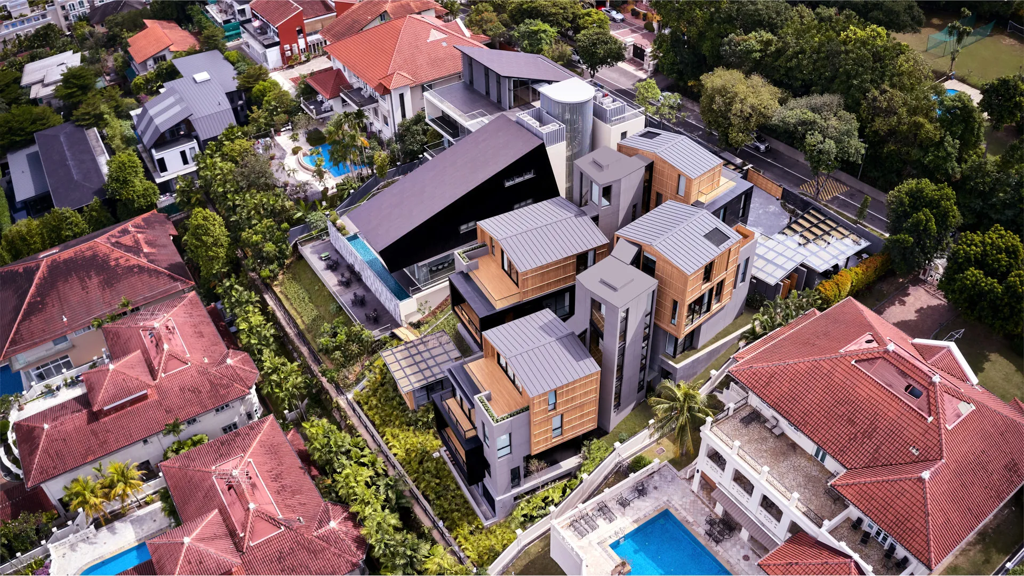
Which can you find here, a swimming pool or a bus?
swimming pool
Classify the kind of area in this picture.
residential area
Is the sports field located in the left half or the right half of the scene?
right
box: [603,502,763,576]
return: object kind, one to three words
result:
swimming pool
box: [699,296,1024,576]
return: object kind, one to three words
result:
house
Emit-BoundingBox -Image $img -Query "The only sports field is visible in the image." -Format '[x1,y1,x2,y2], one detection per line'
[894,1,1024,134]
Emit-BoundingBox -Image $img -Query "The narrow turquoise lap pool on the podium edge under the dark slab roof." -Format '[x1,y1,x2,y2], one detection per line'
[329,222,419,327]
